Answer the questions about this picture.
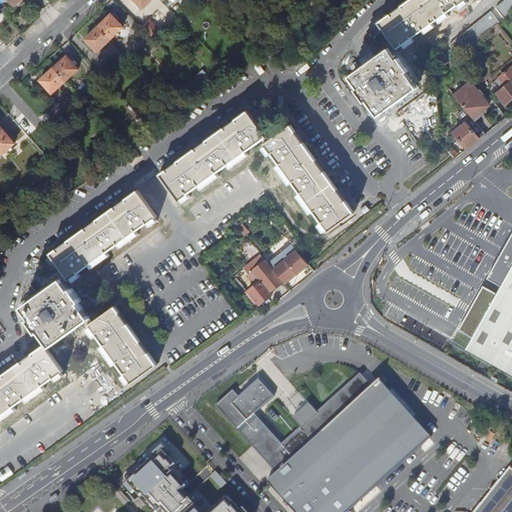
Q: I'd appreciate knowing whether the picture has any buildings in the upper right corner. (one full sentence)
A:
Yes, there is a building in the upper right corner.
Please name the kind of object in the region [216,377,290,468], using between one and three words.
building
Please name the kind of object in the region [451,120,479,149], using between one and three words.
house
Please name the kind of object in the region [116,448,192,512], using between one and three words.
building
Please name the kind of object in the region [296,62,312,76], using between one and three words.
vehicle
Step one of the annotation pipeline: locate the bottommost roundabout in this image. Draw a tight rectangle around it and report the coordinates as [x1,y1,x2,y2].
[312,278,356,322]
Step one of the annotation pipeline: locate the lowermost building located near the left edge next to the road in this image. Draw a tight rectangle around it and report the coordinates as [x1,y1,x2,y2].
[0,346,66,420]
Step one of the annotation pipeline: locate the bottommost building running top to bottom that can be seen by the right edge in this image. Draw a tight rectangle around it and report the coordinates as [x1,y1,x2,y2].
[466,262,512,375]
